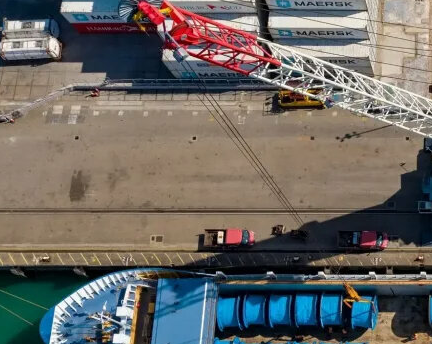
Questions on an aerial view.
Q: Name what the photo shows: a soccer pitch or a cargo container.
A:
cargo container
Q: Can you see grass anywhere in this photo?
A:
No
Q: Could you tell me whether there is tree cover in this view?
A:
No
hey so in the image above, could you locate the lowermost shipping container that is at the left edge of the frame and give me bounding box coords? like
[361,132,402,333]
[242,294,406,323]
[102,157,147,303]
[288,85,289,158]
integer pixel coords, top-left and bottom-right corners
[0,37,65,64]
